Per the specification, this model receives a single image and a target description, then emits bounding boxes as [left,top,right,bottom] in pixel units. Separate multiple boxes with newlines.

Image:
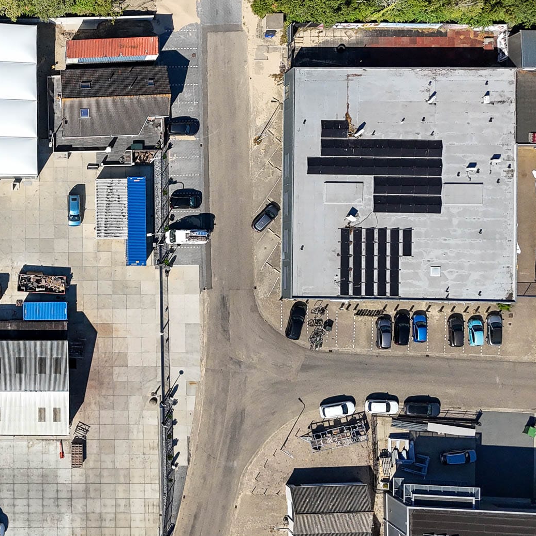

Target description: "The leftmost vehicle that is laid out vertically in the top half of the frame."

[65,193,82,227]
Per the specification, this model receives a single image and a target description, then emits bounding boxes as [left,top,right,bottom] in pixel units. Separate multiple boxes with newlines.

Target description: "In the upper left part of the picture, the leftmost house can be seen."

[61,66,173,138]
